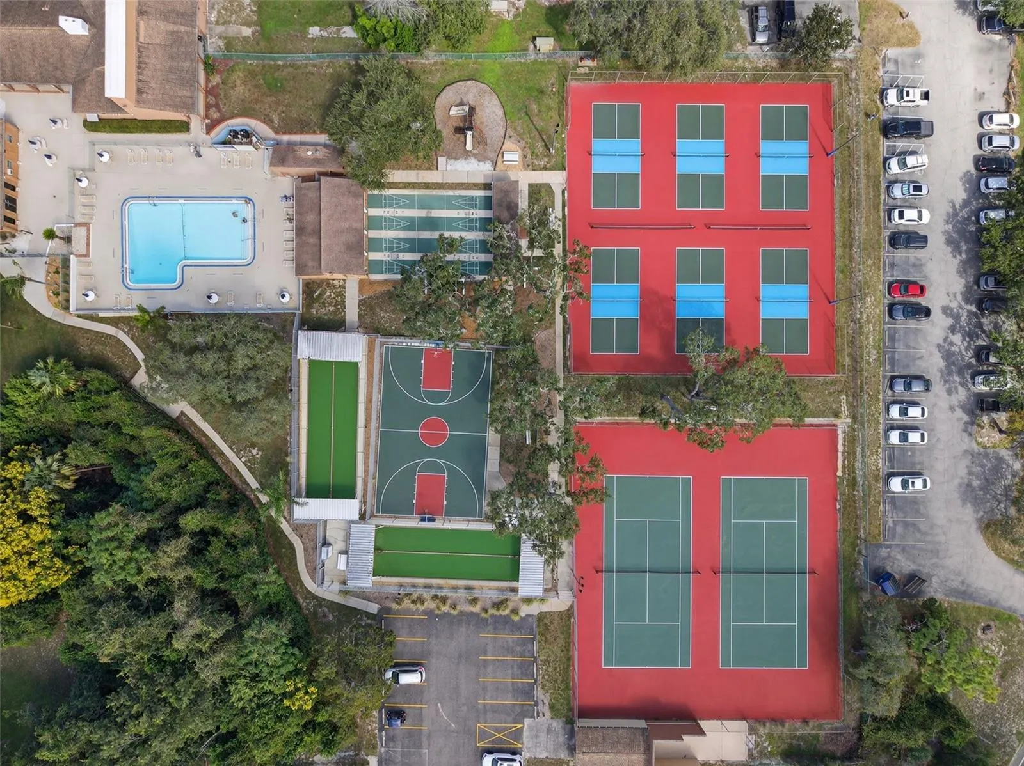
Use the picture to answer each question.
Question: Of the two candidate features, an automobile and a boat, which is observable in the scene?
automobile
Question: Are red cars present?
Yes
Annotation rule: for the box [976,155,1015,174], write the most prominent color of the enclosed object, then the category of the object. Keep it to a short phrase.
black car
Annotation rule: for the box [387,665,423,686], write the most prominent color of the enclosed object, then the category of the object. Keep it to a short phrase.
white car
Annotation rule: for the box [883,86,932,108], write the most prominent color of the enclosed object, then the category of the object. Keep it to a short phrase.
white truck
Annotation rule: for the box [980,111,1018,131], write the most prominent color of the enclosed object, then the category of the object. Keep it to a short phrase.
white car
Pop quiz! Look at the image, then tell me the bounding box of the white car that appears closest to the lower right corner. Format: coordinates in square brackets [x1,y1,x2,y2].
[889,475,929,494]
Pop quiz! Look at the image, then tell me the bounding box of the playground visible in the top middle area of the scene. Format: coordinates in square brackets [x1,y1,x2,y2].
[448,99,487,149]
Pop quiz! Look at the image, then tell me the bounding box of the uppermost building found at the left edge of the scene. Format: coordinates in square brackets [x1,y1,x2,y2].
[0,0,207,121]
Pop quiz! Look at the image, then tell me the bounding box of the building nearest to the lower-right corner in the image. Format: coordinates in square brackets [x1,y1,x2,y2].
[647,719,707,766]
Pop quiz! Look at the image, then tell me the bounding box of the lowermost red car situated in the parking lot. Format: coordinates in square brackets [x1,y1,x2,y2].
[889,281,927,299]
